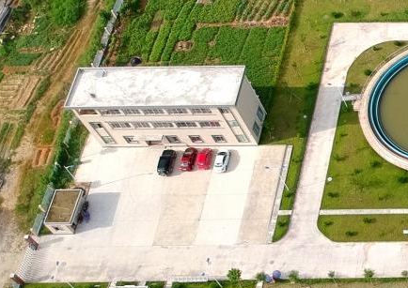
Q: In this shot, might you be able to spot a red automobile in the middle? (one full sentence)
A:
Yes, a red automobile is visible in the middle.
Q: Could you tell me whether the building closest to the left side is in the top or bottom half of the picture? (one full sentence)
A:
It is in the bottom half that the building closest to the left side appears.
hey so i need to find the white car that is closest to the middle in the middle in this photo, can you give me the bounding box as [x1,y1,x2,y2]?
[212,150,229,171]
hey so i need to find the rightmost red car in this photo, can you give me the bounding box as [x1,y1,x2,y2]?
[194,147,212,168]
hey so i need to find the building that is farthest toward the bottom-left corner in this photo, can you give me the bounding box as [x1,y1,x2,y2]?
[43,188,87,235]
